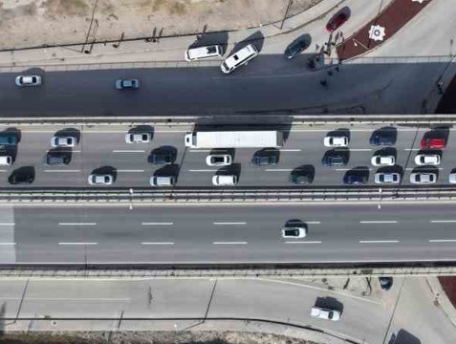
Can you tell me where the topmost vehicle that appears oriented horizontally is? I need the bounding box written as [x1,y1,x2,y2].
[186,44,226,61]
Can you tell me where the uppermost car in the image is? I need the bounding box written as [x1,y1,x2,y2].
[326,5,350,31]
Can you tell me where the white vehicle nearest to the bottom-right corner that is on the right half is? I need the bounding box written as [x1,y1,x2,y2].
[312,305,341,321]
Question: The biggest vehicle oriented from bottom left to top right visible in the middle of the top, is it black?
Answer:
No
